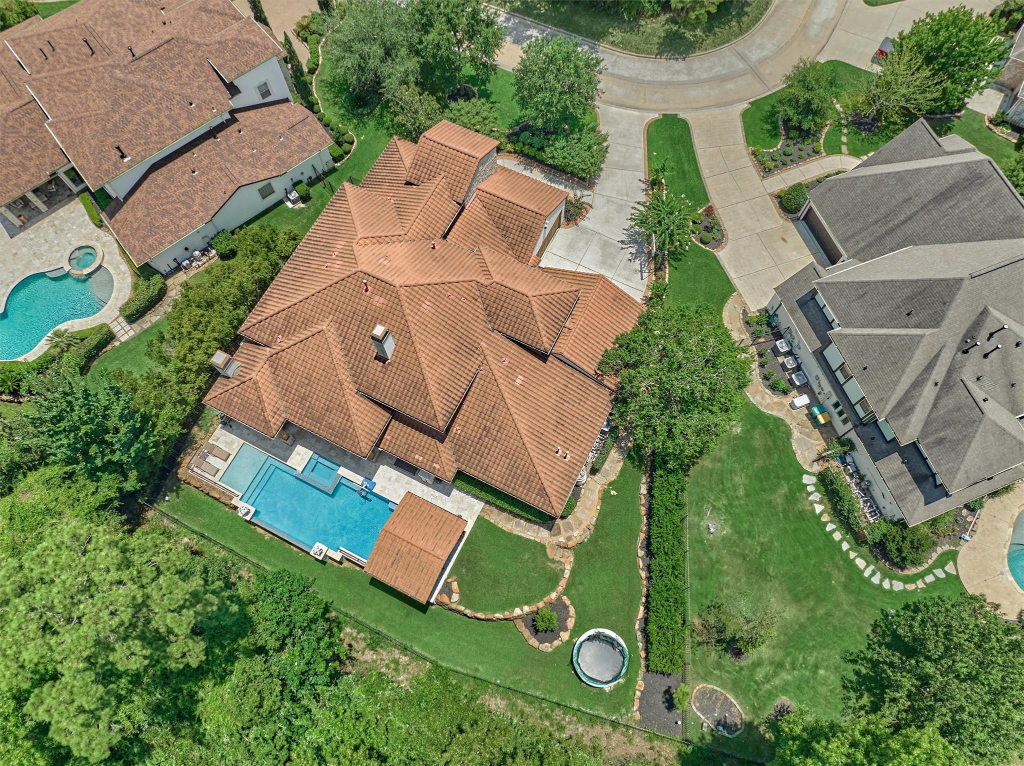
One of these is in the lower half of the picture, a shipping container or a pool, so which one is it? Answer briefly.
pool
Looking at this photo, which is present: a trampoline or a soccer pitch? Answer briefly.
trampoline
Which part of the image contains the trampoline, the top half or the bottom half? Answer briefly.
bottom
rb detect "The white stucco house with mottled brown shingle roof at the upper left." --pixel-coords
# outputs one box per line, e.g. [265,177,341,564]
[0,0,334,277]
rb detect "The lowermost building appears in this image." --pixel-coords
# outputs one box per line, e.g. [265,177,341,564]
[361,490,472,608]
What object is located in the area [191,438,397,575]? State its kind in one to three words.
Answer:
swimming pool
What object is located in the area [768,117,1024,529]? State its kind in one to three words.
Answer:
house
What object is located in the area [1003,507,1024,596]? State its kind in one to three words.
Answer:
swimming pool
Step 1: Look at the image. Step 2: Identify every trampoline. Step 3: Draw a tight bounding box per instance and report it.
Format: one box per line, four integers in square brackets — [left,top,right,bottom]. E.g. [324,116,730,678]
[572,627,629,687]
